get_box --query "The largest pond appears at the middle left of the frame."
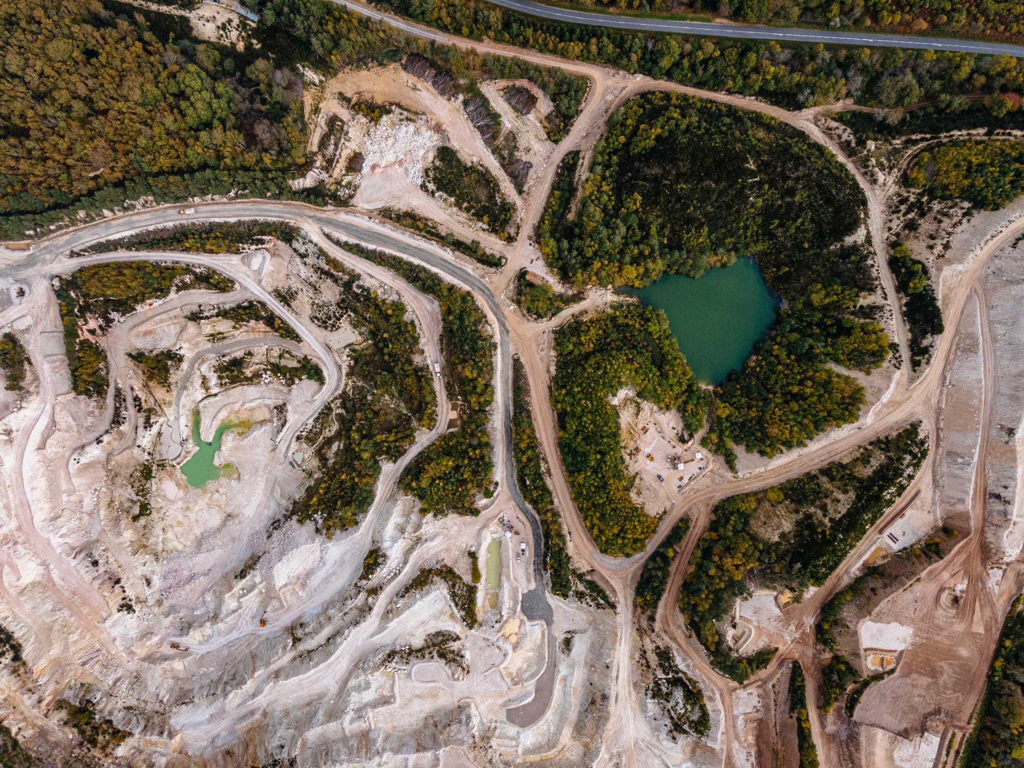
[181,406,253,491]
